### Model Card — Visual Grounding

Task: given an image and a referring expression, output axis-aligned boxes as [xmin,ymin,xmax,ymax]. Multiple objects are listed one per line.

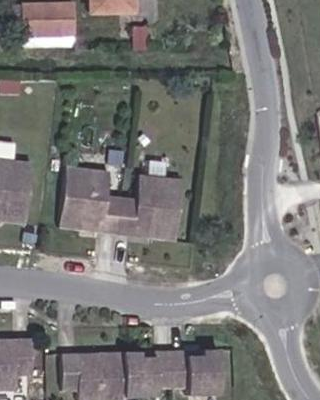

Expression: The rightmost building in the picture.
[190,348,230,396]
